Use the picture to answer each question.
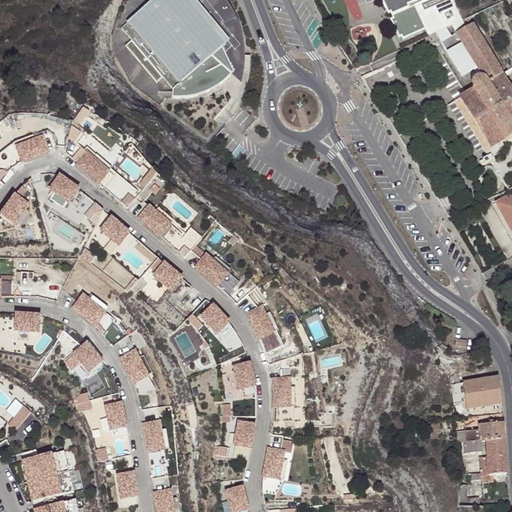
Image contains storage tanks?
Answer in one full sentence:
No, I can't see a single storage tank in this photo.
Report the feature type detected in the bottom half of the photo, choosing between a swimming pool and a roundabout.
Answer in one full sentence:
The feature located in the bottom half of the photo is a swimming pool.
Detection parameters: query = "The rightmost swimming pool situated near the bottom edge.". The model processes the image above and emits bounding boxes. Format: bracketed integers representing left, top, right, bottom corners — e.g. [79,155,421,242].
[281,482,302,497]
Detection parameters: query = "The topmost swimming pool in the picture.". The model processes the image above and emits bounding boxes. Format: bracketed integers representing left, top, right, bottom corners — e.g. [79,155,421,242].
[120,156,142,181]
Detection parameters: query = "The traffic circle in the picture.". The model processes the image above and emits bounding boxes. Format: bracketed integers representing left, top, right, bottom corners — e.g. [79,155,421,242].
[265,70,336,142]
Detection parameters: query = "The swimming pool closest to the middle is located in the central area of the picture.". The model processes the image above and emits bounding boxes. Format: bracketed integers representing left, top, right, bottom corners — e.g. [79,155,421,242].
[208,228,224,244]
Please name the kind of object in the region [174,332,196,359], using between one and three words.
swimming pool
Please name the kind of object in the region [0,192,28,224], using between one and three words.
house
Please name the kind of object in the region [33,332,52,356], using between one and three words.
swimming pool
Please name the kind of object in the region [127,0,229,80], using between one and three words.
building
